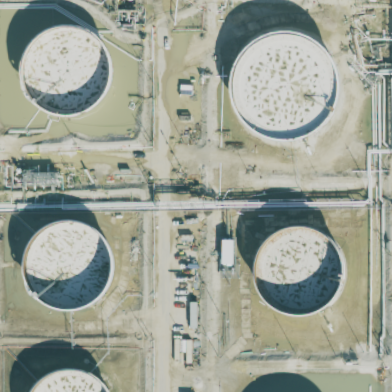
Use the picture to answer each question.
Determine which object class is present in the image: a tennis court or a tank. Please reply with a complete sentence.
The one in the frame is a tank.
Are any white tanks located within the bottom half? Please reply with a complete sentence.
Yes, you'll find a white tank within the bottom half.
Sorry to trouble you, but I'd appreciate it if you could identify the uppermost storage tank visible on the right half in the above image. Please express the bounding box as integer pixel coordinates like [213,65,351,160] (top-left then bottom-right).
[229,30,340,140]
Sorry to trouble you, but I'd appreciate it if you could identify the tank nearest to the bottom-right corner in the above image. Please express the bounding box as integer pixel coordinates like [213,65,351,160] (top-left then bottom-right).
[252,226,346,317]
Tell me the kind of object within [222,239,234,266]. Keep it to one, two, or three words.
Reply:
building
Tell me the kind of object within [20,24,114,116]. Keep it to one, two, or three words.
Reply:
storage tank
